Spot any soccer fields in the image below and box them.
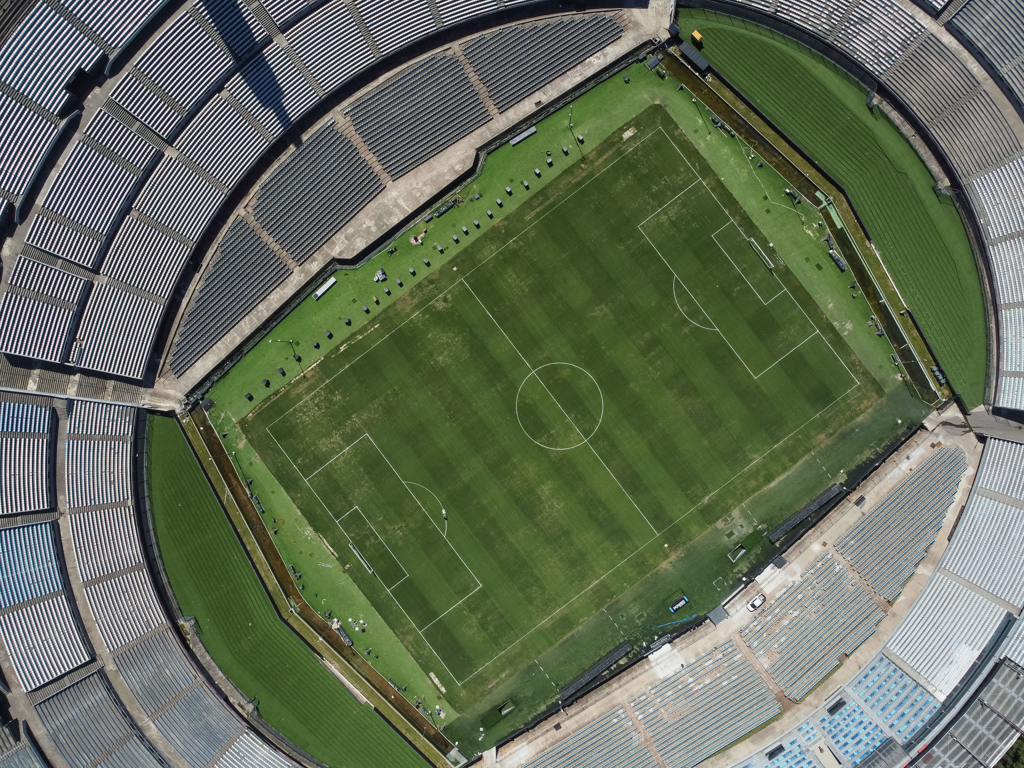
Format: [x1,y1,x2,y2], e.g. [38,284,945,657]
[237,104,886,714]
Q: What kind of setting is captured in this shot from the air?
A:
sports ground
